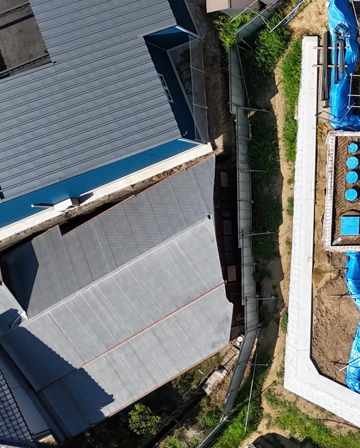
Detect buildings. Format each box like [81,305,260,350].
[0,0,216,223]
[0,154,243,438]
[207,0,269,15]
